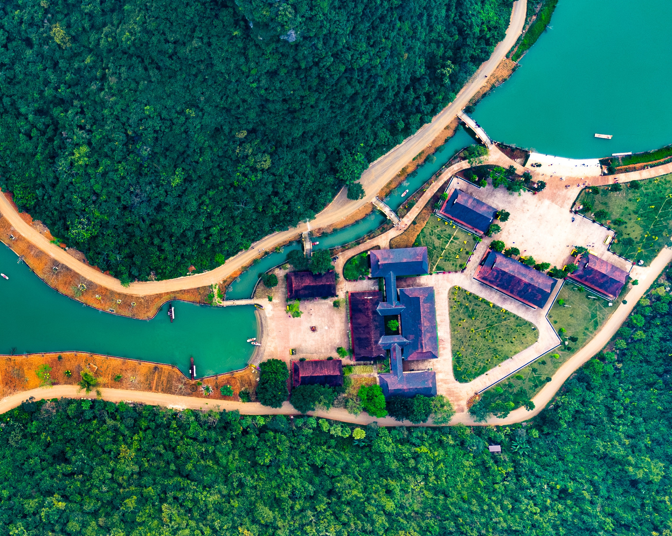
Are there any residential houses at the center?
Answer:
Yes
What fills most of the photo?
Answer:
trees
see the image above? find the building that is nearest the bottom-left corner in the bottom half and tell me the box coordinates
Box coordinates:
[293,360,342,387]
